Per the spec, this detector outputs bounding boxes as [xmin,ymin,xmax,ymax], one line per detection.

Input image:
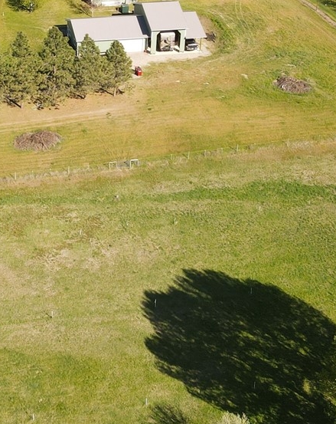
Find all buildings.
[90,0,129,6]
[69,0,207,56]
